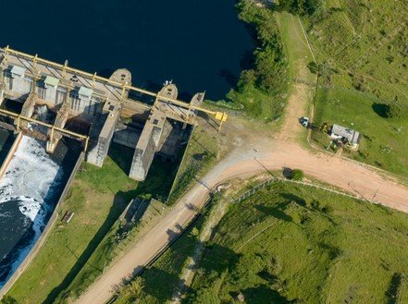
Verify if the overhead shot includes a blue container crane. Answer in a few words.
No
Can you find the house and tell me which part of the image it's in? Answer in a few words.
right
